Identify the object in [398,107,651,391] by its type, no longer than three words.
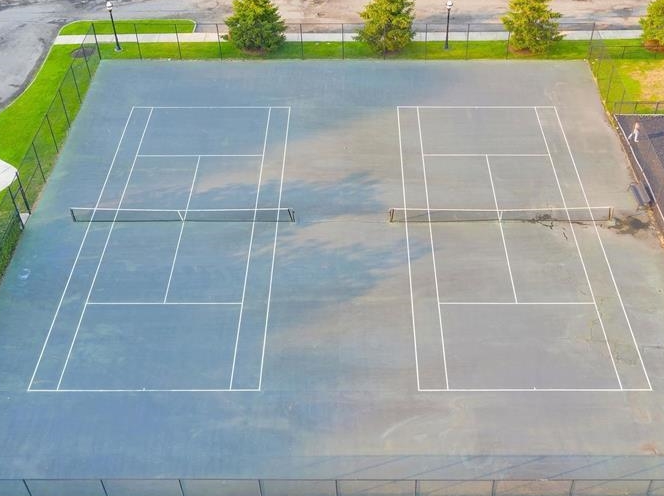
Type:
tennis court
